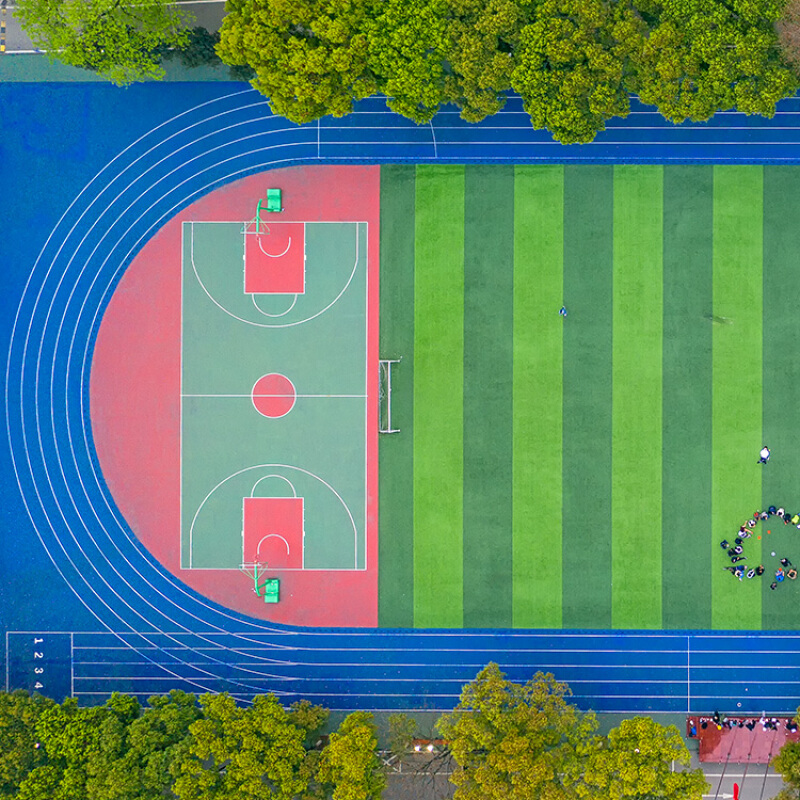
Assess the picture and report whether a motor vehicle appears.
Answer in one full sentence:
No, I find no motor vehicle anywhere in the image.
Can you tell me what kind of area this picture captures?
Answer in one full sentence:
What you see here is a sports ground.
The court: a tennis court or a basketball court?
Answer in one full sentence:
It looks like the court is a basketball court.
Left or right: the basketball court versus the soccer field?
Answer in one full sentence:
Relative to the soccer field, the basketball court is on the left.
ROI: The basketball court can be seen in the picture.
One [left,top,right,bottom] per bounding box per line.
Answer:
[89,165,380,628]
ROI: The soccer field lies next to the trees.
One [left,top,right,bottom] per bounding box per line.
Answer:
[380,165,800,630]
